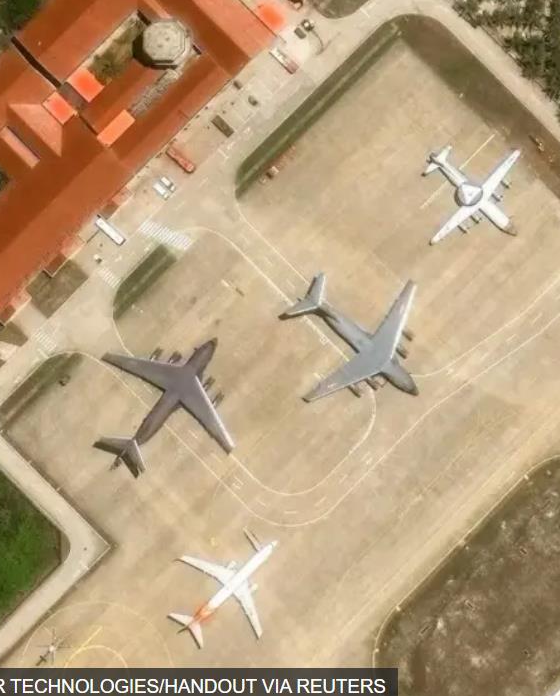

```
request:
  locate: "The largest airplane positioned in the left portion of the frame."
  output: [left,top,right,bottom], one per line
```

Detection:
[95,338,229,479]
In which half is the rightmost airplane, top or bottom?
top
